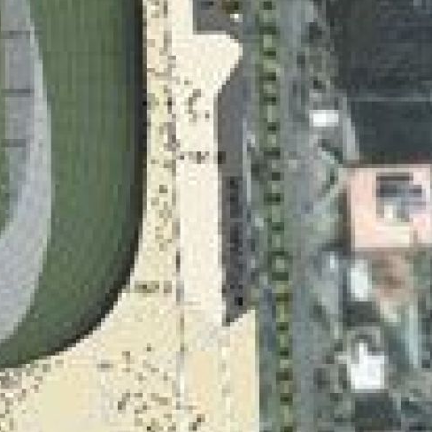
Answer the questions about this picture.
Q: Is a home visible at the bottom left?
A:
No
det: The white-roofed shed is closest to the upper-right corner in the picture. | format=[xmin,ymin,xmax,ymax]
[315,112,341,125]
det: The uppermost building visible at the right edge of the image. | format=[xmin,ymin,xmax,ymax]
[349,167,432,249]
